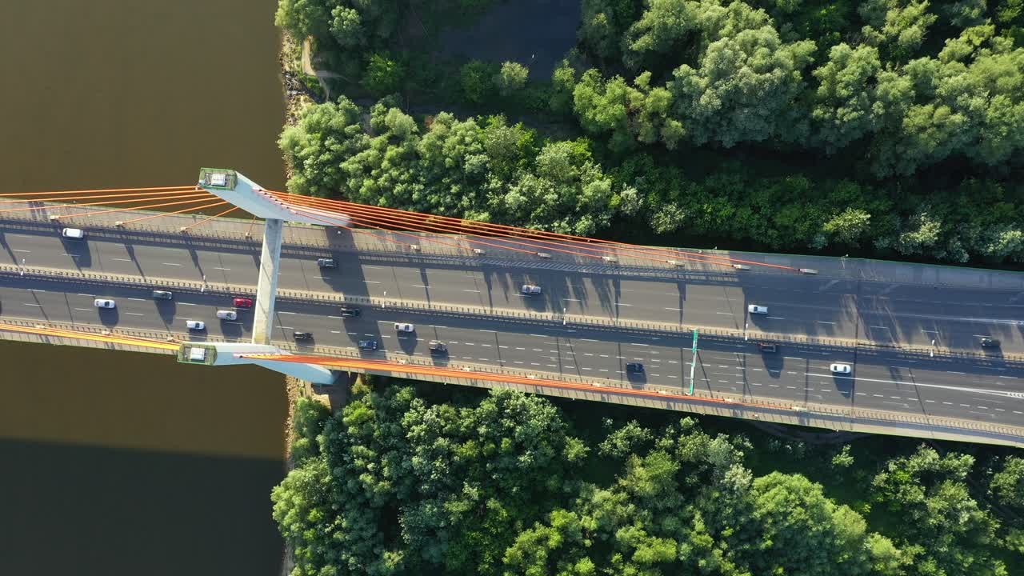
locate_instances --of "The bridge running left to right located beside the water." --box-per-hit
[0,167,1024,448]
